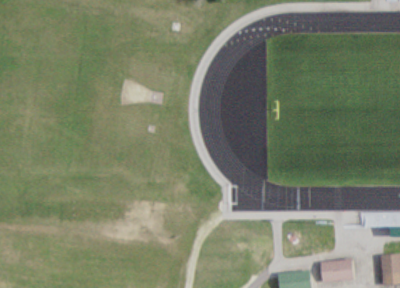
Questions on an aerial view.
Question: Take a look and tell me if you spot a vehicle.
No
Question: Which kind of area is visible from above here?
sports ground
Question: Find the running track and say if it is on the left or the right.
right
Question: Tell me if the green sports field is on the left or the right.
right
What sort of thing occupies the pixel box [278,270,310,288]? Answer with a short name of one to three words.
shed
